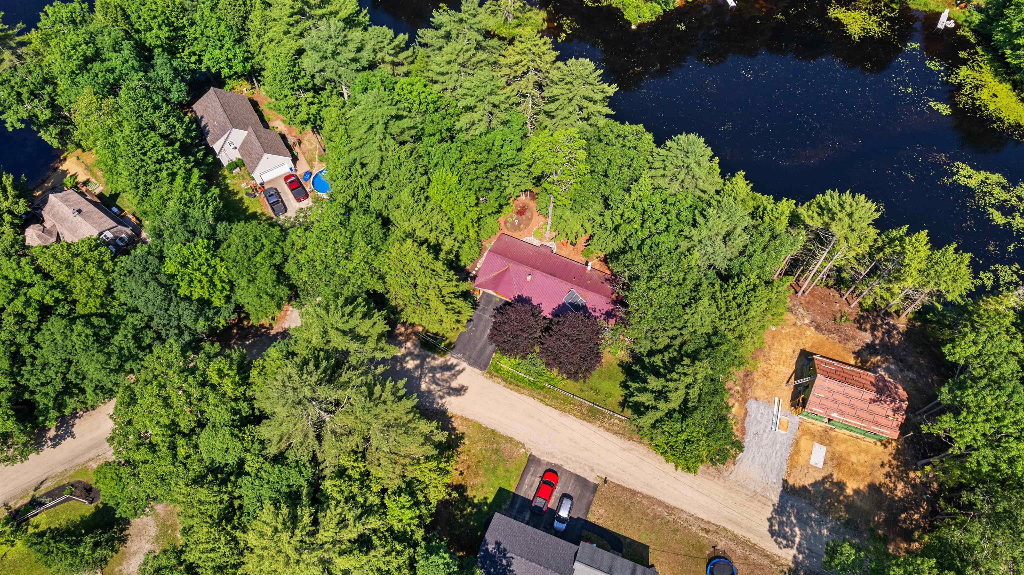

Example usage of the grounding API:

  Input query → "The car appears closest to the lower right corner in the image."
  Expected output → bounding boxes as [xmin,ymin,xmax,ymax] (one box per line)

[554,490,575,534]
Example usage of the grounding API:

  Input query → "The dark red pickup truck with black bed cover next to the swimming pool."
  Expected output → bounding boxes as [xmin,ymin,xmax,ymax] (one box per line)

[286,173,308,205]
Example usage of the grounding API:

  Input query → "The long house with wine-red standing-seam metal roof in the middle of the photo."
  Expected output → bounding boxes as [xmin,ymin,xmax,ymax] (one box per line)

[471,234,623,340]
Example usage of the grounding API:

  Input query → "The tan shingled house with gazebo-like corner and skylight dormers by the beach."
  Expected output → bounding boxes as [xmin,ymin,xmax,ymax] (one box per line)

[22,189,144,272]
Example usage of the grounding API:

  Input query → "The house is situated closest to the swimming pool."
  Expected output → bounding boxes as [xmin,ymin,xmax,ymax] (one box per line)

[195,87,295,184]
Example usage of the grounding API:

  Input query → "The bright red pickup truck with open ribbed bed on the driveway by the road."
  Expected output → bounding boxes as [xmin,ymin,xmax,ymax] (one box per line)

[532,466,556,516]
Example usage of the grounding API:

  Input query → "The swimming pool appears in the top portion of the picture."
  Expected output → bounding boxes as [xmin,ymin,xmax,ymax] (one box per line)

[309,167,337,188]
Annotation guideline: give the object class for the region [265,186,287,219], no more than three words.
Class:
truck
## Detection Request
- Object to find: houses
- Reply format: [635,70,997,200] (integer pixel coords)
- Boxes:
[195,87,295,184]
[472,512,661,575]
[22,189,144,272]
[794,356,911,443]
[471,234,623,340]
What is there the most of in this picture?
trees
